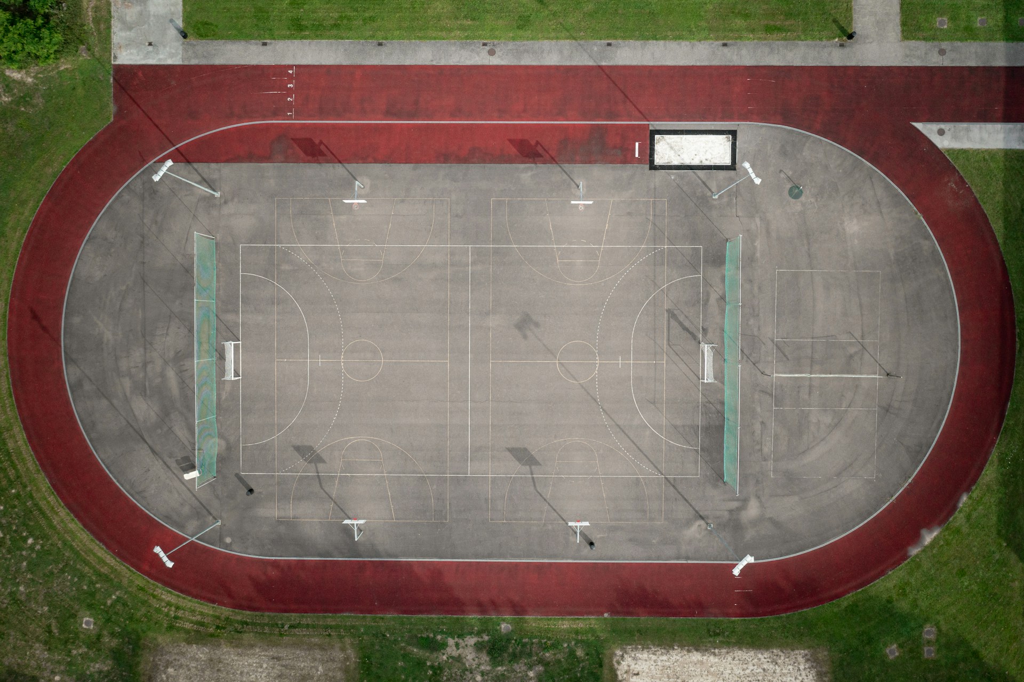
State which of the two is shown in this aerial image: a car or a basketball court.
basketball court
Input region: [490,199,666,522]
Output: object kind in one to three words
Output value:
basketball court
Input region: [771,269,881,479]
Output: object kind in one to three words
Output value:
sports court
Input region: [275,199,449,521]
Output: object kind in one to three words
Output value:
basketball court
